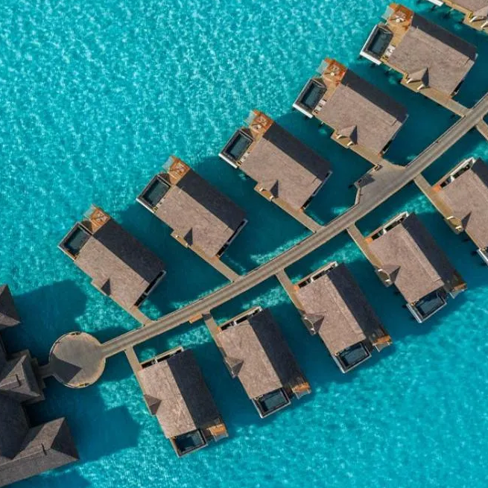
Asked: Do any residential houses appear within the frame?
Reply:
Yes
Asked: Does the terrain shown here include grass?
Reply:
No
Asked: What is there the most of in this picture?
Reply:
water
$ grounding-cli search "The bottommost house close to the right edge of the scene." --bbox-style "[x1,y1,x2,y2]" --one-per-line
[363,208,465,304]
